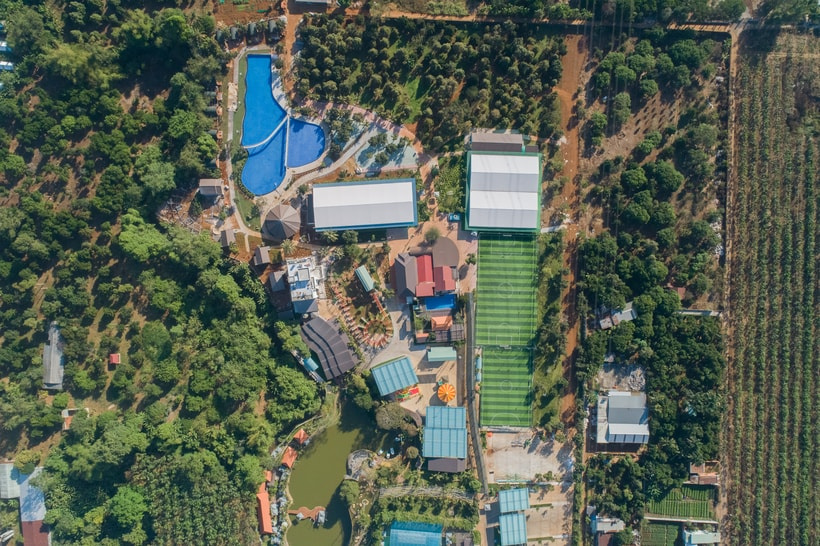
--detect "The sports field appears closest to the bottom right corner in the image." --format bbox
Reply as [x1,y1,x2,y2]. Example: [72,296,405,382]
[480,343,533,430]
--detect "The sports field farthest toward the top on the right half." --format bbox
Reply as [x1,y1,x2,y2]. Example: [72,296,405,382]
[476,231,537,347]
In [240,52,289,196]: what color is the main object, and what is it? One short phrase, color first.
blue swimming pool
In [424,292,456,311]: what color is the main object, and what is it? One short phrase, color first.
blue swimming pool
